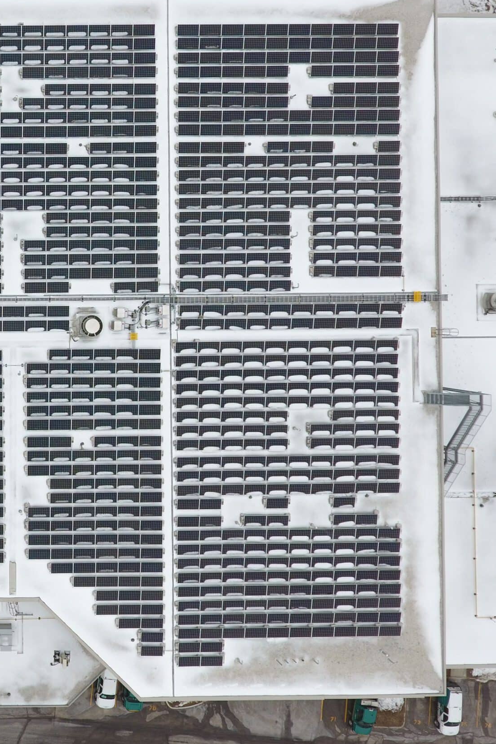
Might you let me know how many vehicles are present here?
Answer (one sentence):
In total, 4 vehicles can be seen.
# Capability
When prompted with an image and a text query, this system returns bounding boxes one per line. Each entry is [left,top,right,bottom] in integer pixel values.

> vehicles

[435,673,466,736]
[349,697,377,735]
[97,669,120,709]
[122,687,144,711]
